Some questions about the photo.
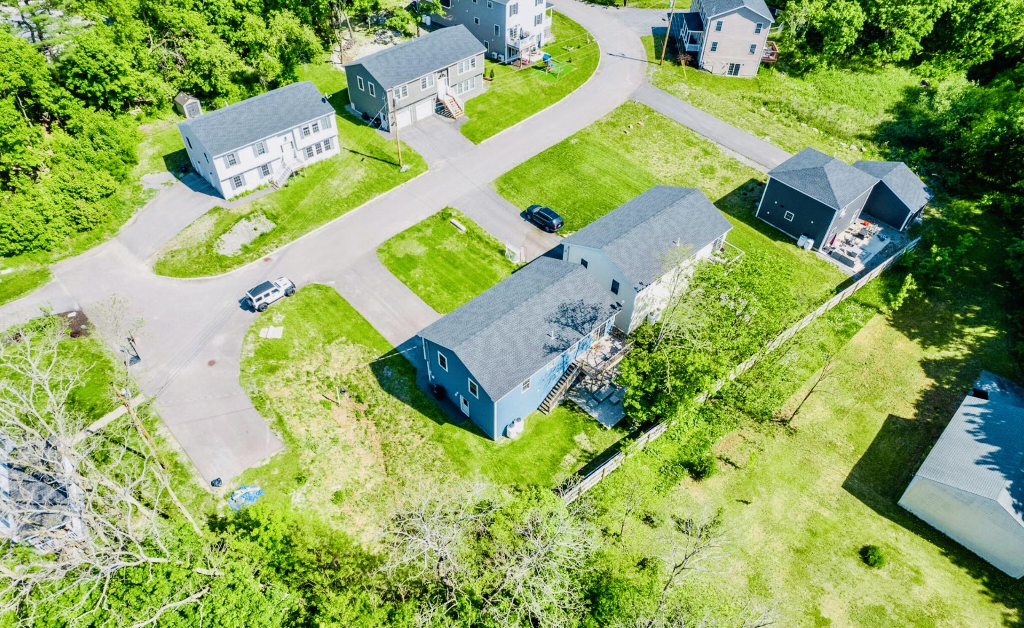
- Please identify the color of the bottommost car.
white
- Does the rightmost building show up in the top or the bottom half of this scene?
bottom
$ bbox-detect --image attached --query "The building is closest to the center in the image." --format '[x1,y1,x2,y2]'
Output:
[418,256,620,441]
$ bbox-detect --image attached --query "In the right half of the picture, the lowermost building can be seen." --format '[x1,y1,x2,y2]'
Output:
[898,396,1024,579]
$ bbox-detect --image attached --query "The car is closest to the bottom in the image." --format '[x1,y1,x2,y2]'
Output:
[243,278,295,312]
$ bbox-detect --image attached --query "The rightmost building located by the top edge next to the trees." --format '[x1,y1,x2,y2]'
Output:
[682,0,774,74]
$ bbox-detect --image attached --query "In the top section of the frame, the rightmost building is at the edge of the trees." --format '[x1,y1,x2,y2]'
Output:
[849,158,935,230]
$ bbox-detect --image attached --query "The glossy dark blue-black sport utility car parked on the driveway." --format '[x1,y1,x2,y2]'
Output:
[524,203,565,232]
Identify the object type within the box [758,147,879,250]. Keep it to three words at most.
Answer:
house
